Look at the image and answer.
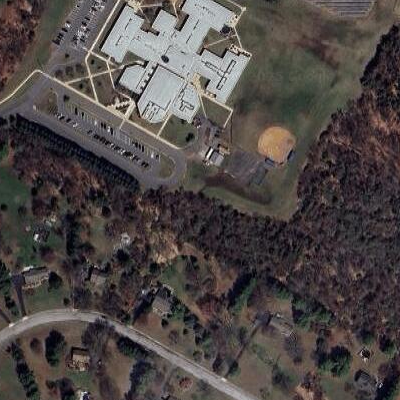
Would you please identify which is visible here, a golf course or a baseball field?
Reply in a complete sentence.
The image shows a baseball field.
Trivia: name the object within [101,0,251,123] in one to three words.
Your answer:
building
